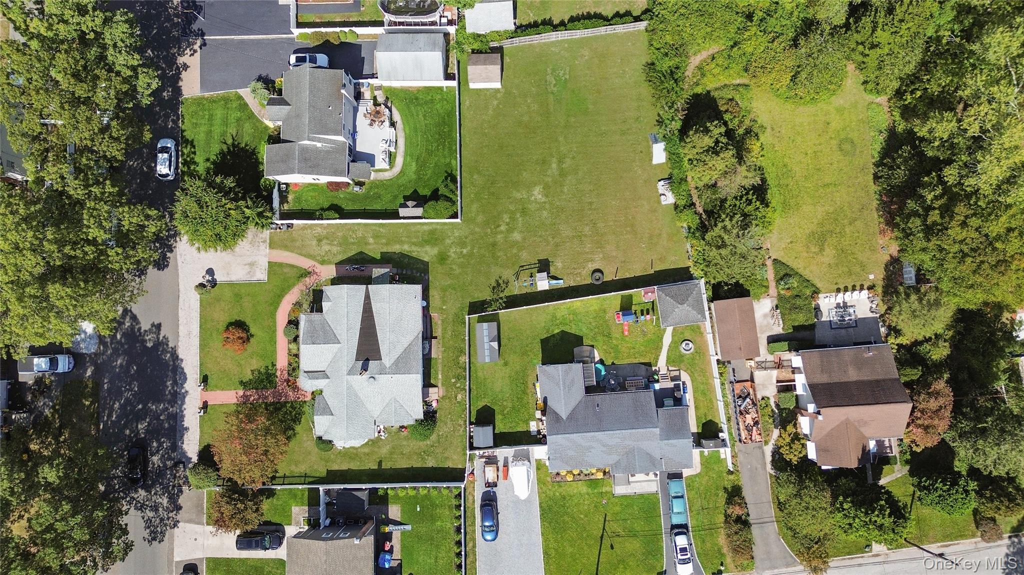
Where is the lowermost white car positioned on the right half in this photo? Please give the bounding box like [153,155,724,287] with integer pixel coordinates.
[668,525,693,572]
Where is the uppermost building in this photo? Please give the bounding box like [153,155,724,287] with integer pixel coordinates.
[464,0,514,39]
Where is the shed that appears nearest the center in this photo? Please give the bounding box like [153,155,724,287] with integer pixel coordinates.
[476,322,499,363]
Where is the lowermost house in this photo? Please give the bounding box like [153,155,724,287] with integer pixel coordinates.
[286,516,380,575]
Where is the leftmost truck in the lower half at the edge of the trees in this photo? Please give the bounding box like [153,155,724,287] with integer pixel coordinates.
[17,351,74,373]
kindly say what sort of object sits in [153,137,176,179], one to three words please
car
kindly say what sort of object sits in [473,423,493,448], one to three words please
shed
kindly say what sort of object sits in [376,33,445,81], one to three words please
building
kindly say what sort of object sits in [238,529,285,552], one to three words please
car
